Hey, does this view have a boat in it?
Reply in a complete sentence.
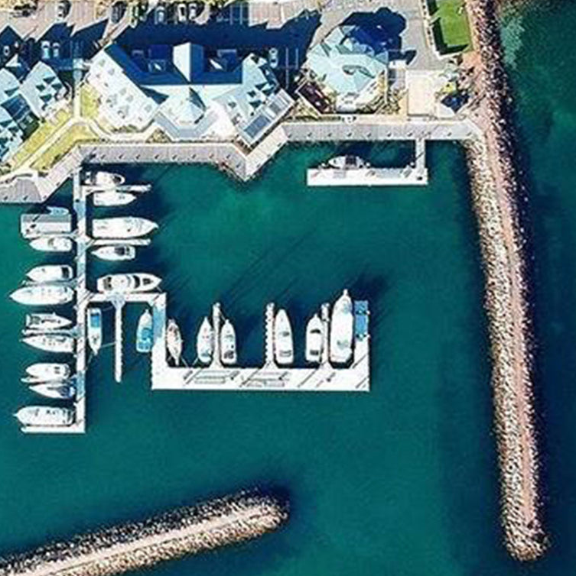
Yes, you can see a boat in this photo.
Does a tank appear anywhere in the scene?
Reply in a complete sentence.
No, there isn't any tank down there.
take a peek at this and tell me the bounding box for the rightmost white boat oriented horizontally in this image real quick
[327,155,368,168]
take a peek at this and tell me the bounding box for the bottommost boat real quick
[13,406,76,425]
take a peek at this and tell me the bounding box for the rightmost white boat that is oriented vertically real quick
[331,289,355,367]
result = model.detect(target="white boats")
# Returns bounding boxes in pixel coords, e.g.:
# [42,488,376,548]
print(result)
[13,406,76,425]
[93,274,161,293]
[30,238,75,252]
[88,216,159,238]
[26,312,72,330]
[221,319,238,367]
[26,265,75,282]
[327,155,368,168]
[331,289,355,367]
[26,363,73,380]
[197,317,214,366]
[276,308,295,367]
[91,191,136,207]
[88,307,103,355]
[11,284,76,305]
[92,246,139,259]
[29,385,75,399]
[306,313,324,366]
[20,336,74,353]
[167,319,185,362]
